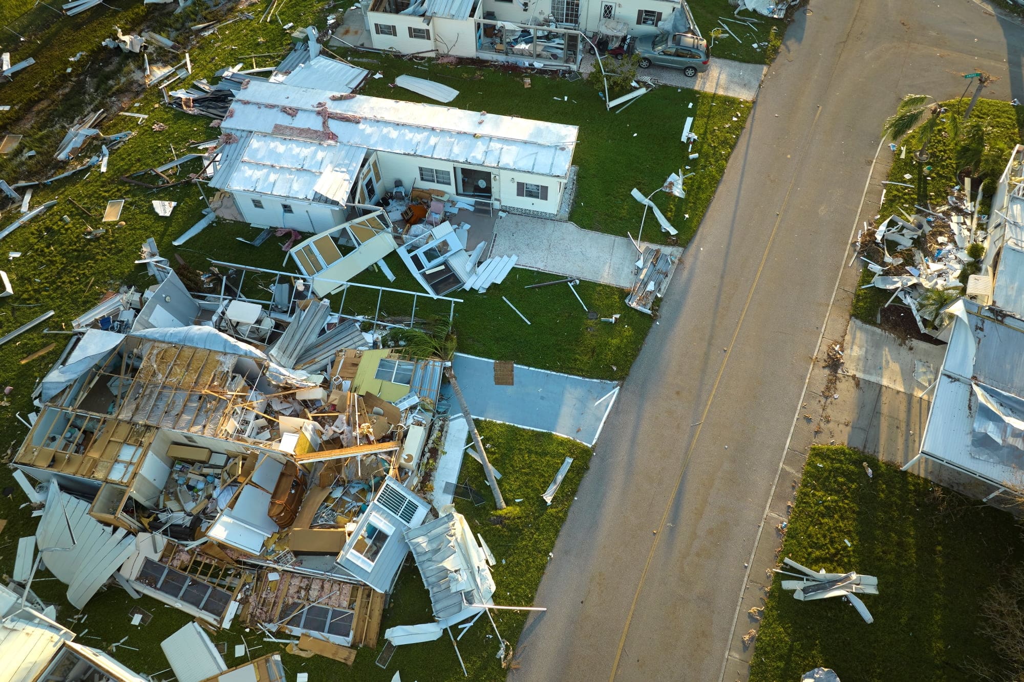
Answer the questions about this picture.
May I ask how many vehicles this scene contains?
2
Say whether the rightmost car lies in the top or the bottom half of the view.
top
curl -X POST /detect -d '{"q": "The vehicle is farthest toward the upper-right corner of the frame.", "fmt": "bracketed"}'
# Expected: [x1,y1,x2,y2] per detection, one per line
[631,31,717,78]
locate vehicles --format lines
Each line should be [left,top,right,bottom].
[631,31,717,78]
[587,12,634,55]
